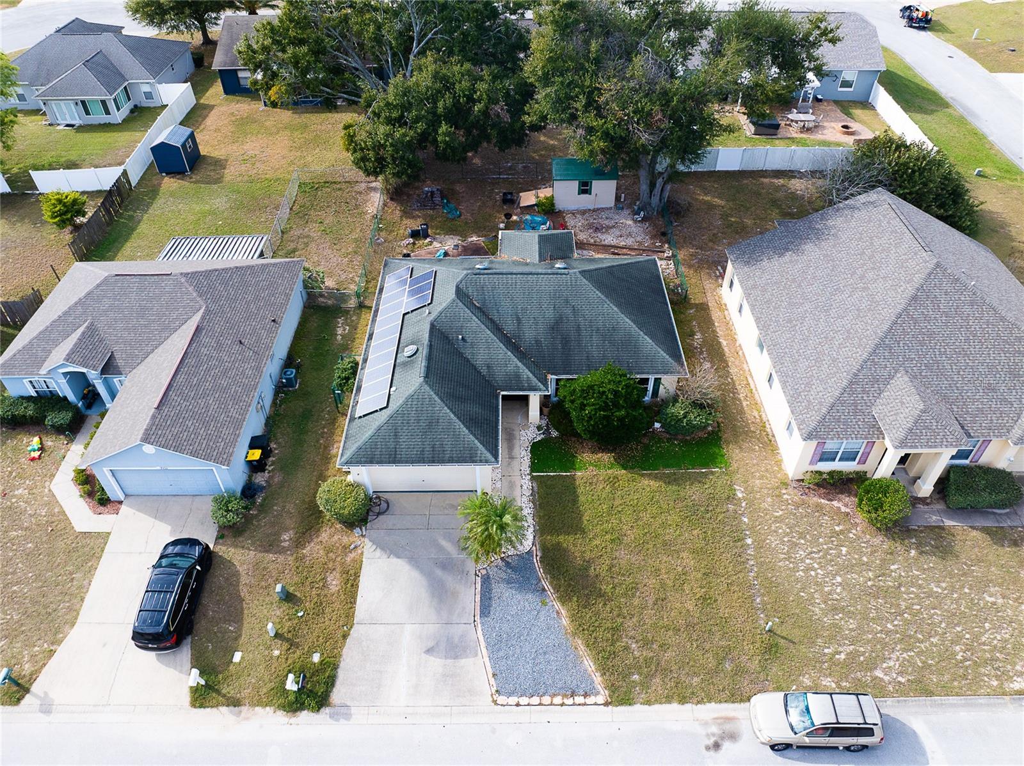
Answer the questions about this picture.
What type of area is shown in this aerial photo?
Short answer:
residential area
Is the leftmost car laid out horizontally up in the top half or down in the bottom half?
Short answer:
bottom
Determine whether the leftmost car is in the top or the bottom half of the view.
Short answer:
bottom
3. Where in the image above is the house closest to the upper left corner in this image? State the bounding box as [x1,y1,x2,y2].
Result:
[1,20,191,127]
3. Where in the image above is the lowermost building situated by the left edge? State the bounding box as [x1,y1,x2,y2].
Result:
[0,258,305,501]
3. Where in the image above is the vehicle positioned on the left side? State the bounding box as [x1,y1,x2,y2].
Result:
[137,541,215,654]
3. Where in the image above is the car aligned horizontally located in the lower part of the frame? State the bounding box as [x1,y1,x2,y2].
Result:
[750,690,887,754]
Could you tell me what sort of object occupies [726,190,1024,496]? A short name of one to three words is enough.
house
